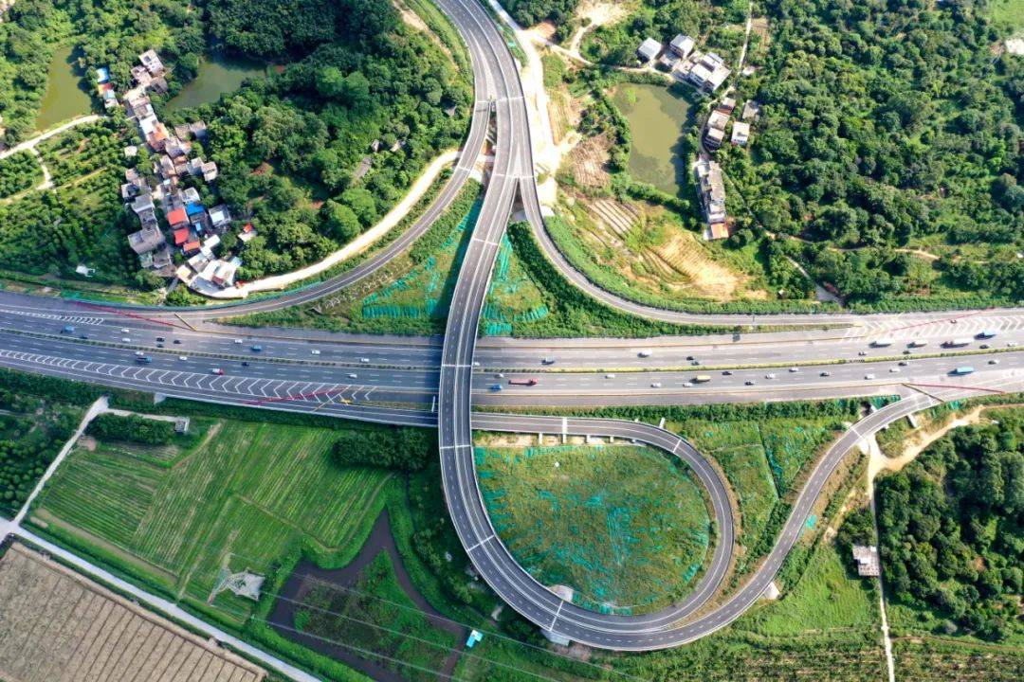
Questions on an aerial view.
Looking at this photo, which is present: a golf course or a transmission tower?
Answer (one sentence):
Looking from above, you can make out a transmission tower.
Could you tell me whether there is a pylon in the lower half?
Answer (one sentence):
Yes, a pylon is visible in the lower half.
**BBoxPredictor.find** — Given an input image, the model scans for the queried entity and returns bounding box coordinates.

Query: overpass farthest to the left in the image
[439,99,669,651]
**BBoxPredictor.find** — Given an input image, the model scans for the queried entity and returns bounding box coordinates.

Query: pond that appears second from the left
[165,54,265,112]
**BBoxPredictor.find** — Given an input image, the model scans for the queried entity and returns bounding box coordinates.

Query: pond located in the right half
[607,81,693,199]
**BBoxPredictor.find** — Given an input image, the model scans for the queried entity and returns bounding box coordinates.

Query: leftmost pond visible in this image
[35,47,93,132]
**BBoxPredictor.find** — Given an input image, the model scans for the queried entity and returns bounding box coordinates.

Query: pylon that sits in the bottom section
[210,557,260,608]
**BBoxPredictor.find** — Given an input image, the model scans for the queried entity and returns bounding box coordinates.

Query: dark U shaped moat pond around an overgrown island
[265,504,467,682]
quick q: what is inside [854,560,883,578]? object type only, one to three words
house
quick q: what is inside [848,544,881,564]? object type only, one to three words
house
